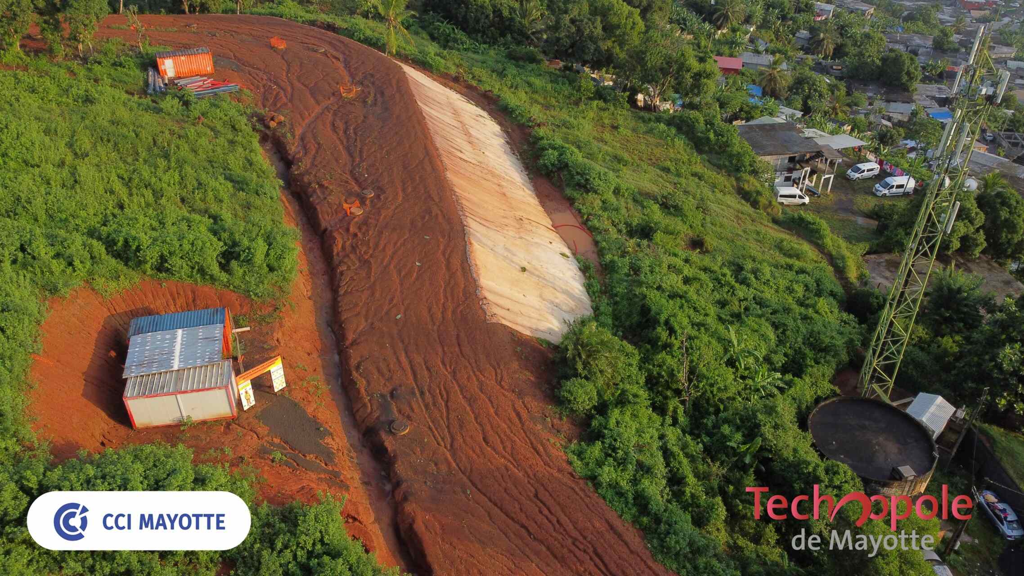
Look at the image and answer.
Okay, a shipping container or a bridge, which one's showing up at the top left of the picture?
shipping container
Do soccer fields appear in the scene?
No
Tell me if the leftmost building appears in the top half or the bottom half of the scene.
bottom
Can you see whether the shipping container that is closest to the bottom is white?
No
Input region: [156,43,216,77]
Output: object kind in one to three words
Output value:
shipping container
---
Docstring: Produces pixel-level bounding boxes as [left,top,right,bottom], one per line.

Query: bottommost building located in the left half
[126,361,238,429]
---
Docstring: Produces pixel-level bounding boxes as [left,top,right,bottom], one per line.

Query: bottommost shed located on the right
[909,393,956,438]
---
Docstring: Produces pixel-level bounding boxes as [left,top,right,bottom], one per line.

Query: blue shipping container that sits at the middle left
[130,308,231,361]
